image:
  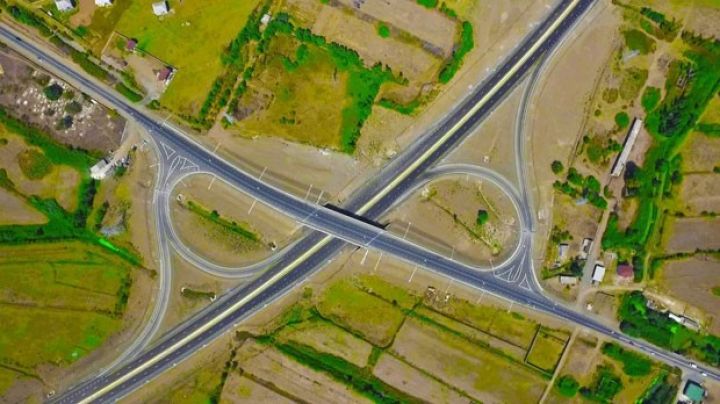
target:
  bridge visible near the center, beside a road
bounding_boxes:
[292,200,393,254]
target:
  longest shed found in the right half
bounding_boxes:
[610,118,643,177]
